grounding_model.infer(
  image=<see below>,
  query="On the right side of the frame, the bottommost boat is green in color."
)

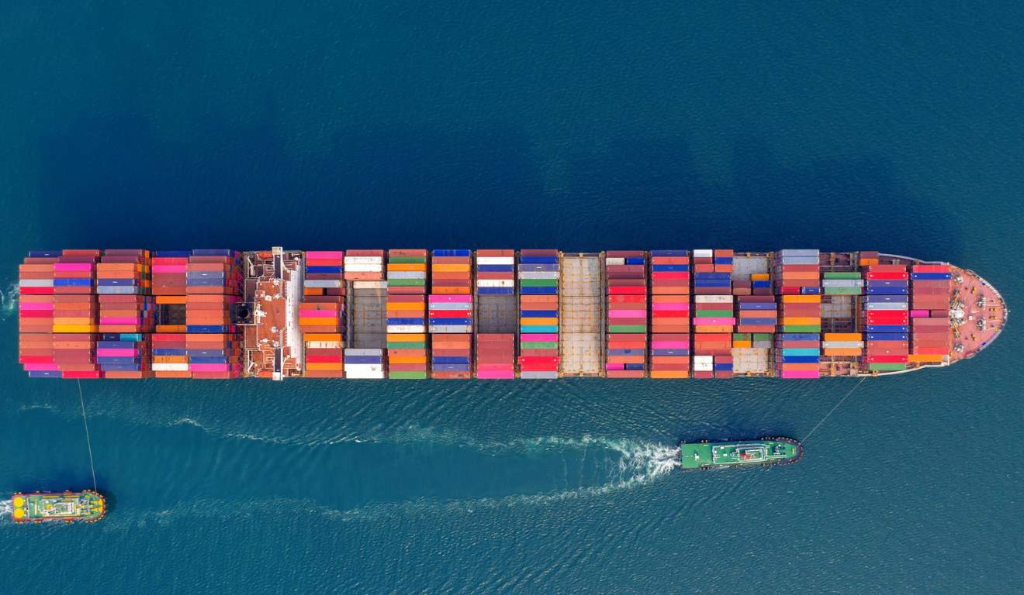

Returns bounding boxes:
[678,435,804,470]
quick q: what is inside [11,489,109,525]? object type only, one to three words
boat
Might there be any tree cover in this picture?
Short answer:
No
